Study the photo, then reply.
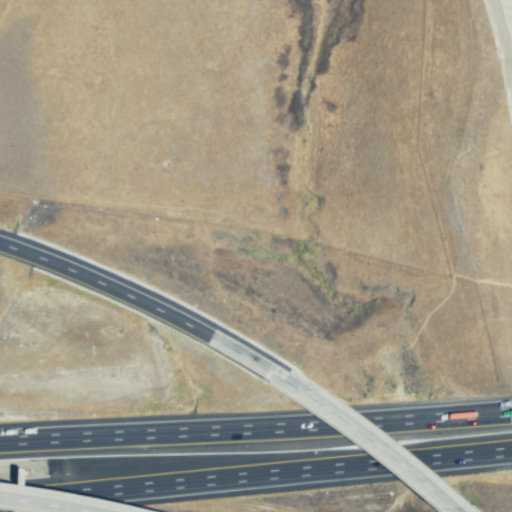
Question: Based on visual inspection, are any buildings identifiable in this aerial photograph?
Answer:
No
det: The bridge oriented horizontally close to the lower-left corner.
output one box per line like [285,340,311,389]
[0,468,162,512]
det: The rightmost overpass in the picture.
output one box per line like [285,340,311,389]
[276,367,484,512]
